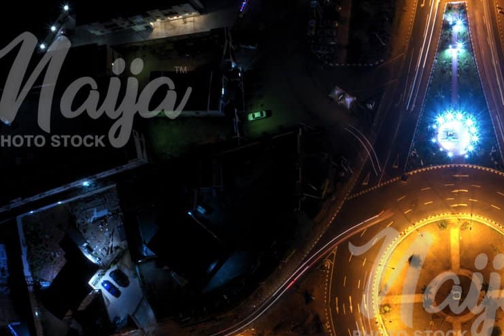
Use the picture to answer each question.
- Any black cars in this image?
Yes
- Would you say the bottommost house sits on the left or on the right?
left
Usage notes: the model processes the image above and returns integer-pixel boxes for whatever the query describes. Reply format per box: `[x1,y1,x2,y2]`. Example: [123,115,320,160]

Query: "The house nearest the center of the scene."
[184,142,293,232]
